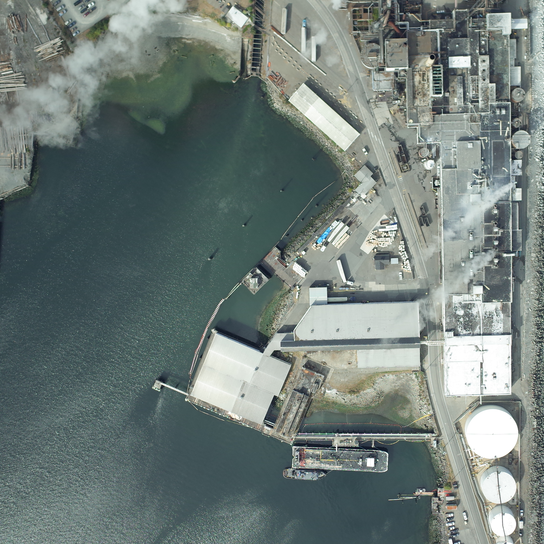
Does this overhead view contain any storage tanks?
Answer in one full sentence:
Yes, a storage tank is visible in the scene.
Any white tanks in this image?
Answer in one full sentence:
Yes, the photo shows a white tank.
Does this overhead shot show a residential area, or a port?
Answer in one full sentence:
It's a port.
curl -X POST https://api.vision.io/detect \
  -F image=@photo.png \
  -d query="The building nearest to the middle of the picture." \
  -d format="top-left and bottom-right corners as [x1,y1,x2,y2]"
[241,267,271,294]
